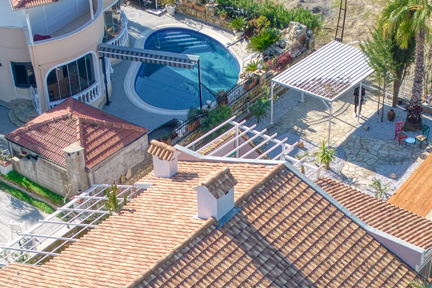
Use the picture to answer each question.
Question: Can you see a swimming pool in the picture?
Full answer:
Yes, there's a swimming pool down there.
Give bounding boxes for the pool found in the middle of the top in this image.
[121,21,251,117]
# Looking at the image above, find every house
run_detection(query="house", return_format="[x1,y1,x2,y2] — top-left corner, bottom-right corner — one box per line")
[0,0,138,129]
[0,134,432,288]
